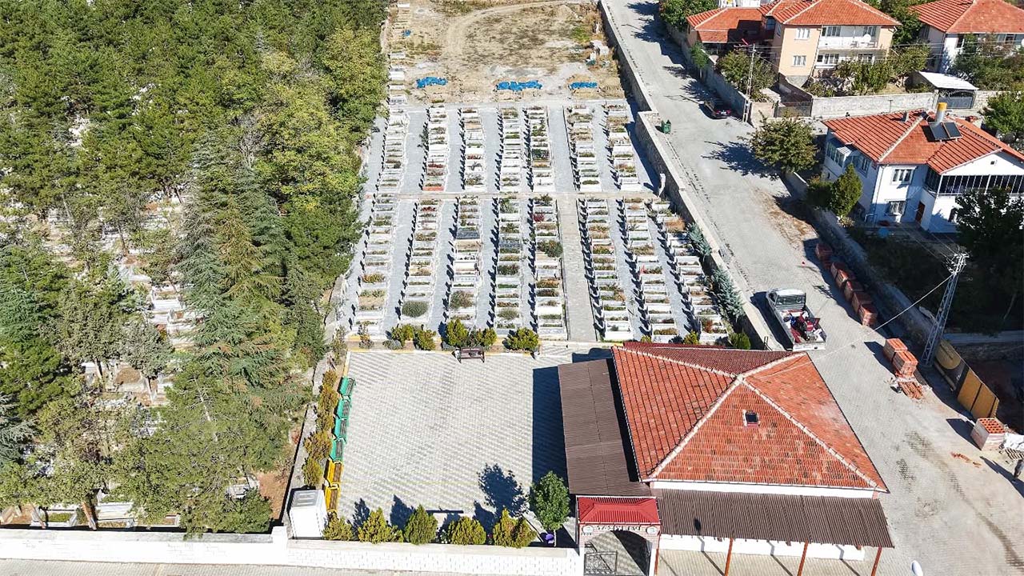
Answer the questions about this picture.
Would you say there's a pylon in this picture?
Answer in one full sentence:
Yes, the photo shows a pylon.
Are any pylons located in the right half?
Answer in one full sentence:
Yes, a pylon can be seen in the right half.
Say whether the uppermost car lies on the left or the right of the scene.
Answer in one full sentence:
The uppermost car appears in the right half of the scene.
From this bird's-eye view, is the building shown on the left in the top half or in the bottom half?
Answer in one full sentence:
The bottom half of the photo is where the building shown on the left is.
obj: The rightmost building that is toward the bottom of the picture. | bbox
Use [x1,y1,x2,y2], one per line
[557,344,893,576]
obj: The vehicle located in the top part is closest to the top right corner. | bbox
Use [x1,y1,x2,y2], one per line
[699,93,733,116]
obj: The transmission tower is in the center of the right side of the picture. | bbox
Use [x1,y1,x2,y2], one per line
[915,252,978,374]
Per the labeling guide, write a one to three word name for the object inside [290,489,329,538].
building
